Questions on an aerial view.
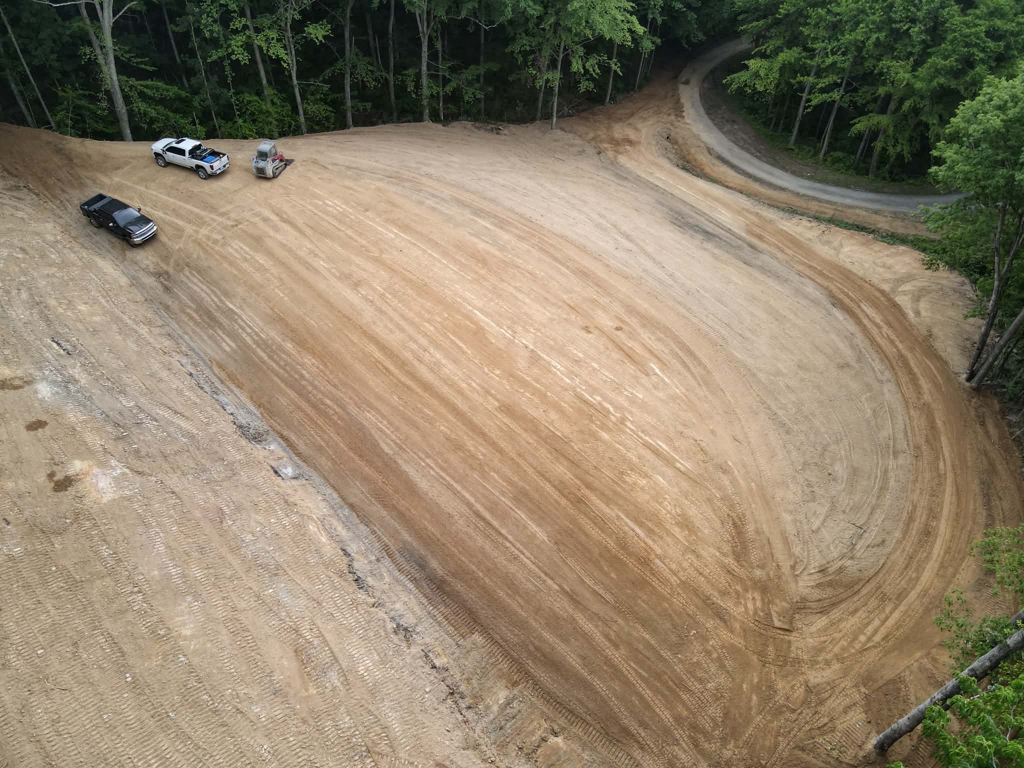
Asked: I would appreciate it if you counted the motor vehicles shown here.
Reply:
three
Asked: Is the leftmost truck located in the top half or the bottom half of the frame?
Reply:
top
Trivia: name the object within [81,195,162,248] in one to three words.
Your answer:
truck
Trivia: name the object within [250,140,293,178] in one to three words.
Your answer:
work vehicle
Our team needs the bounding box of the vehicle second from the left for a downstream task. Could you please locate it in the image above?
[149,139,232,180]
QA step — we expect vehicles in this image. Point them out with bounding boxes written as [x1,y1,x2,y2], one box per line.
[81,195,162,248]
[149,139,232,180]
[250,140,293,178]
